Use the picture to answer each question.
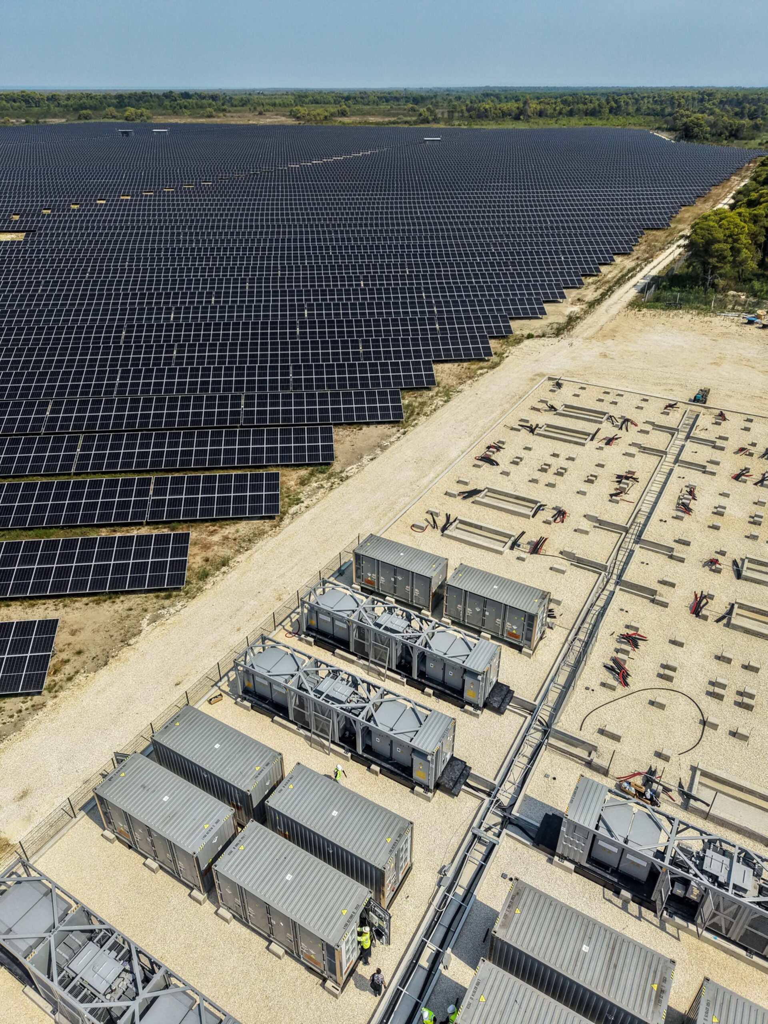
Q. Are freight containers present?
Yes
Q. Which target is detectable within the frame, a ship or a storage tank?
storage tank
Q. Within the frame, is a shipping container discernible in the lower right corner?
Yes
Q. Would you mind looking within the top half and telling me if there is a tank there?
No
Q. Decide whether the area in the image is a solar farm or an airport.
solar farm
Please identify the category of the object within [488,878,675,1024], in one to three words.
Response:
shipping container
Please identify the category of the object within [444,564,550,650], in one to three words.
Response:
shipping container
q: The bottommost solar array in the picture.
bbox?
[0,619,59,693]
